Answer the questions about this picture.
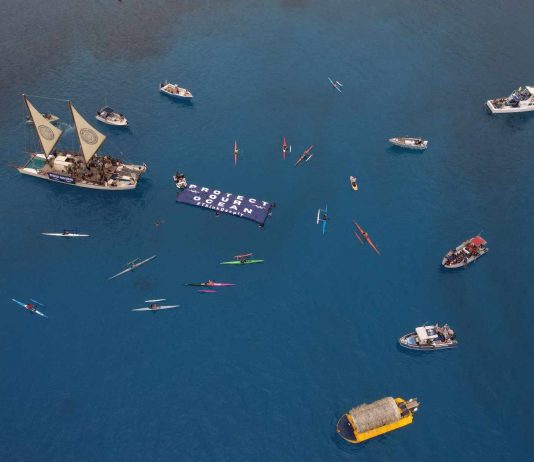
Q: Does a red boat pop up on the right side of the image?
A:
Yes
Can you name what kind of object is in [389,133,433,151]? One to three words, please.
boat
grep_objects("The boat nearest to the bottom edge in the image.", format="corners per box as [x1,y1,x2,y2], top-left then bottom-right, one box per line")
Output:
[337,399,424,443]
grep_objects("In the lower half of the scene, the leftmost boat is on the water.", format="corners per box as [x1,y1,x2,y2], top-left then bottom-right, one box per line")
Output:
[11,298,46,318]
